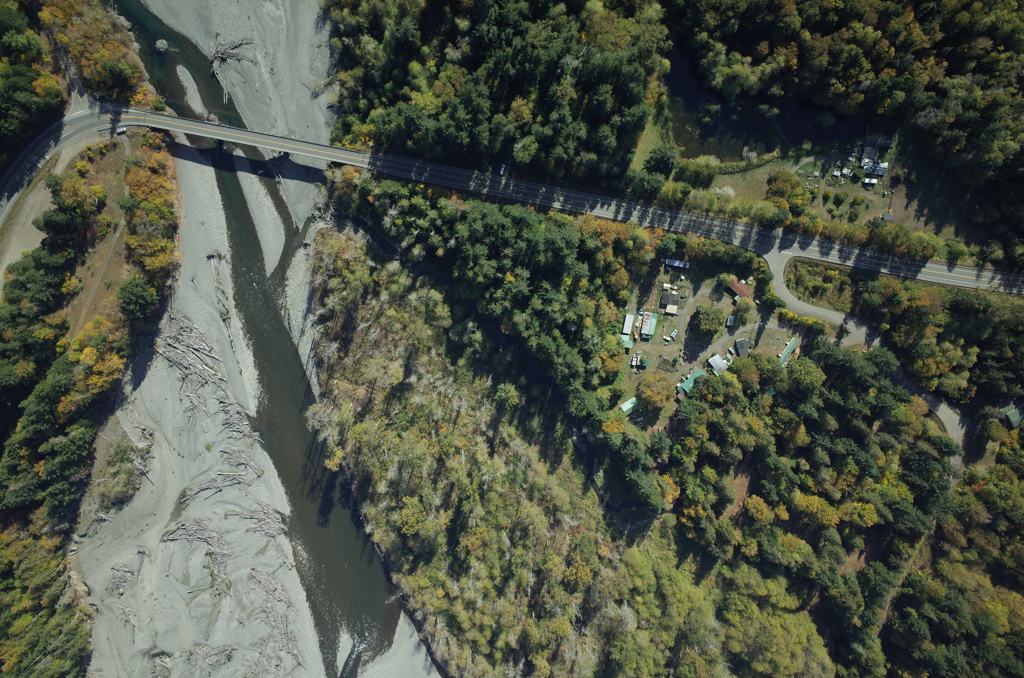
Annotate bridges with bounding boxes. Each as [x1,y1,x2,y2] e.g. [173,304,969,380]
[149,109,332,162]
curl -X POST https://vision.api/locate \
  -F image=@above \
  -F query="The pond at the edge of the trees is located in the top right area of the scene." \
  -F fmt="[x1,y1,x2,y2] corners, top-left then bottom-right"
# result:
[665,44,867,161]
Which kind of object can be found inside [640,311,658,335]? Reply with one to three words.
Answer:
building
